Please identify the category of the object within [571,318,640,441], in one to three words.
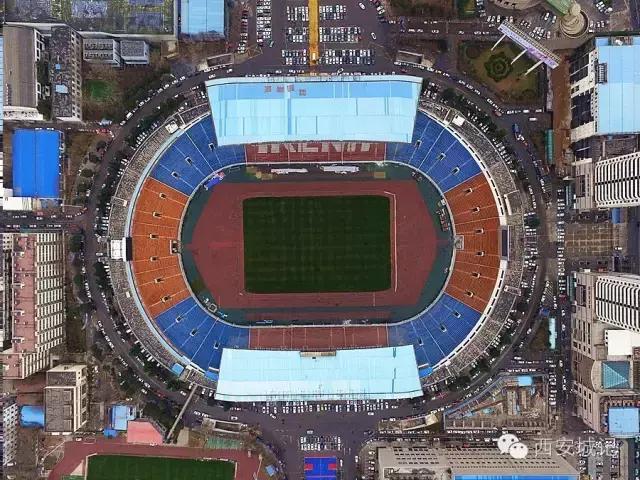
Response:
building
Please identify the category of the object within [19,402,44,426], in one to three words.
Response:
shed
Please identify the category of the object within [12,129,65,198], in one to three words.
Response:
building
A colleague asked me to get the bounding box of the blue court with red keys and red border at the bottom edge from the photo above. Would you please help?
[304,454,336,480]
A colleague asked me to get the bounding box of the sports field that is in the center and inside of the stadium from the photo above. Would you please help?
[244,195,391,293]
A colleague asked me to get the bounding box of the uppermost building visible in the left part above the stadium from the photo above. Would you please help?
[180,0,228,39]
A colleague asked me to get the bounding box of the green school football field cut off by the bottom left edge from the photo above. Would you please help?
[88,454,236,480]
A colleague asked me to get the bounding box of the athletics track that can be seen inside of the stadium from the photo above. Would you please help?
[184,165,451,325]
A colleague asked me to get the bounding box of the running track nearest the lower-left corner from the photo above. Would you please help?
[44,441,262,480]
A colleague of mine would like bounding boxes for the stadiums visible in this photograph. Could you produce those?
[108,75,526,402]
